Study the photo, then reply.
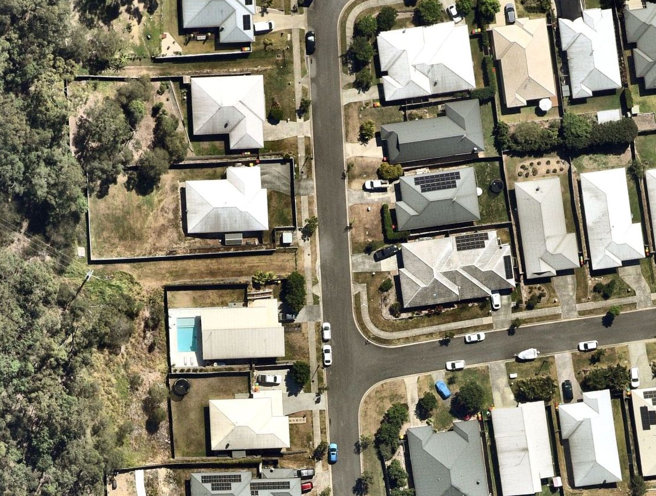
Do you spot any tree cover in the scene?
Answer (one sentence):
Yes, tree cover can be seen from above here.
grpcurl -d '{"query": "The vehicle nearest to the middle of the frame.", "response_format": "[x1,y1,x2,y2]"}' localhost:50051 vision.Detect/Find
[373,244,398,261]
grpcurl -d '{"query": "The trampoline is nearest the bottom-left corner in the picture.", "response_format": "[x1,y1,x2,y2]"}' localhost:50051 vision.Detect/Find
[173,379,189,395]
